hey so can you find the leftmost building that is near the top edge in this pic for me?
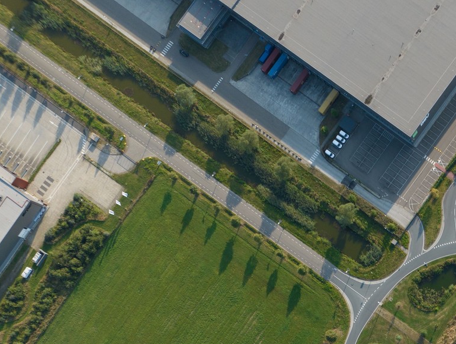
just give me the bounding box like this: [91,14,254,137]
[175,0,233,48]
